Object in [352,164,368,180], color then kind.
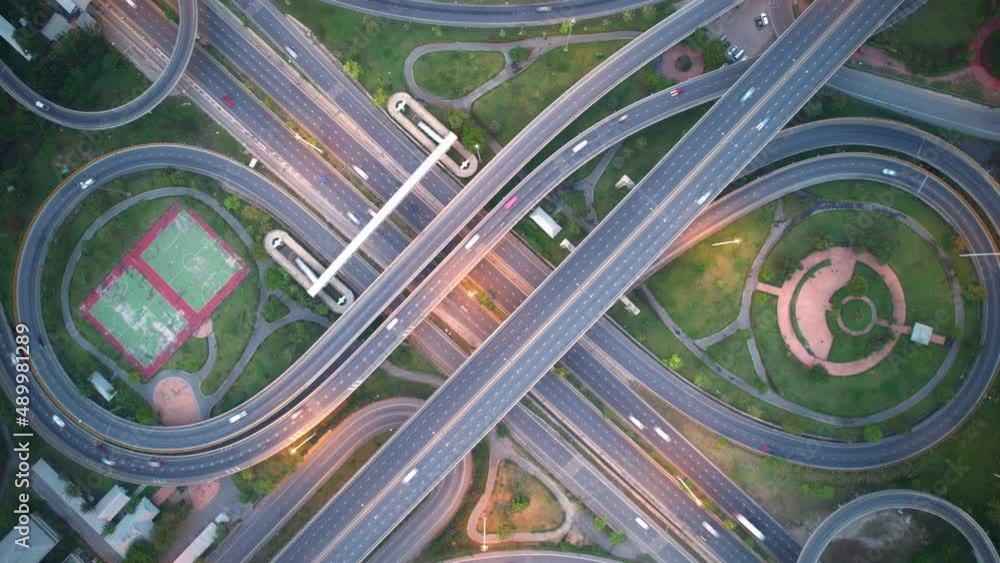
white vehicle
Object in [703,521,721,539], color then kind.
white vehicle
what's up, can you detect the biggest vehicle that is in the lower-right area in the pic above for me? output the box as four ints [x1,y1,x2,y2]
[735,512,769,543]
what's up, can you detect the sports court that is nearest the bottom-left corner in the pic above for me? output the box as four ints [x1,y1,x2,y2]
[79,259,197,378]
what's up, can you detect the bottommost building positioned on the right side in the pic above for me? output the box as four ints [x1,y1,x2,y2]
[911,323,939,346]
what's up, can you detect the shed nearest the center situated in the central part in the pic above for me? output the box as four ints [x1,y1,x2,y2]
[531,207,561,237]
